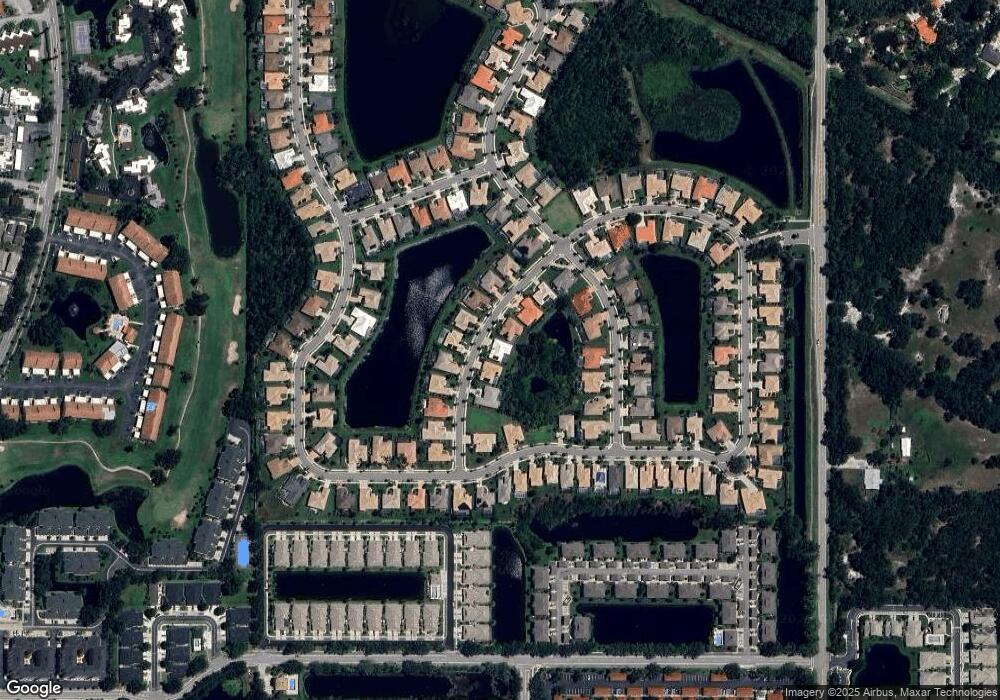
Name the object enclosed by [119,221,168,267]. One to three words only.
building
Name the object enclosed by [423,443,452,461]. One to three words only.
house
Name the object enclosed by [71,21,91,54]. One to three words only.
tennis court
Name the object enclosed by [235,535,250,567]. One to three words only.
swimming pool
